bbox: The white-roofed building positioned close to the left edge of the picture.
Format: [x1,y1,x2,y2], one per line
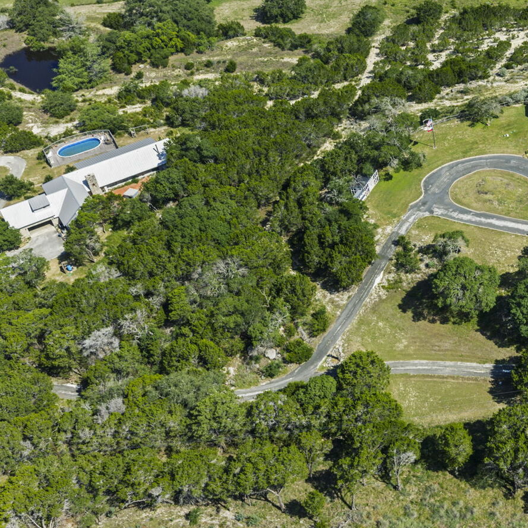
[0,135,176,237]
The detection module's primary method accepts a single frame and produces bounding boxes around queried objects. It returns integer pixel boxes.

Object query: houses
[0,135,176,237]
[346,166,379,198]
